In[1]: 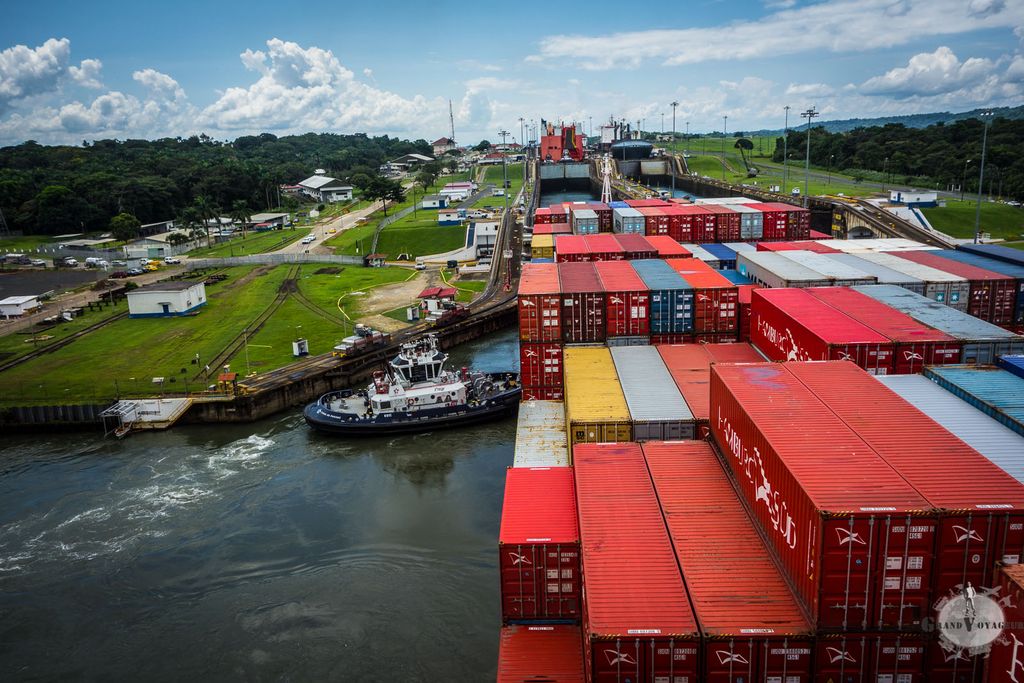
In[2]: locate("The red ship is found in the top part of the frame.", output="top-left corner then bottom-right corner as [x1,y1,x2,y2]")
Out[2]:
[540,117,589,161]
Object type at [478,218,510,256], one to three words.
building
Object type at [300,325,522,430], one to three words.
boat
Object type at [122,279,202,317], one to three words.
building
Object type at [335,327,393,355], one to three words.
rail car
